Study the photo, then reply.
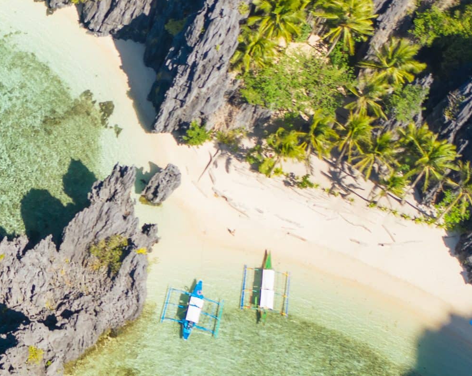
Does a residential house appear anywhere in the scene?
No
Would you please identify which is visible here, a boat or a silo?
boat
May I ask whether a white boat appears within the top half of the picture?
No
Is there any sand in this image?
Yes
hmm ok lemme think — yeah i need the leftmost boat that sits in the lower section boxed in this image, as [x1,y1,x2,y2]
[159,279,228,344]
